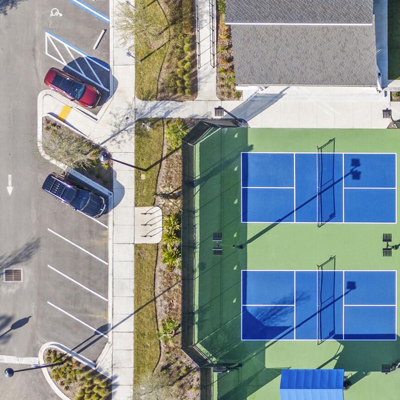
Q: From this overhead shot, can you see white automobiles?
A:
No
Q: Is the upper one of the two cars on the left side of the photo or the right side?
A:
left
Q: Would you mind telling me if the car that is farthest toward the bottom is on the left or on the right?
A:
left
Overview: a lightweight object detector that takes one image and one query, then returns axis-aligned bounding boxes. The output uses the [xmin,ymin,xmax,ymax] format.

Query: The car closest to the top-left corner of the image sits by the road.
[42,66,103,110]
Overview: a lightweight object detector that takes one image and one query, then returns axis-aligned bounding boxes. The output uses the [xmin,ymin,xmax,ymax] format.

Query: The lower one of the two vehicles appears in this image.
[39,173,108,219]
